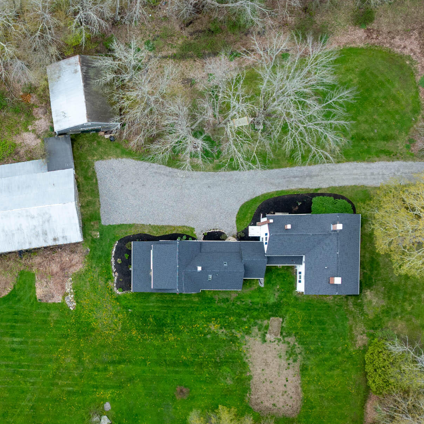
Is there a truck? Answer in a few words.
No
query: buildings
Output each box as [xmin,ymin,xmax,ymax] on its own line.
[0,160,83,253]
[46,54,120,135]
[131,213,361,295]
